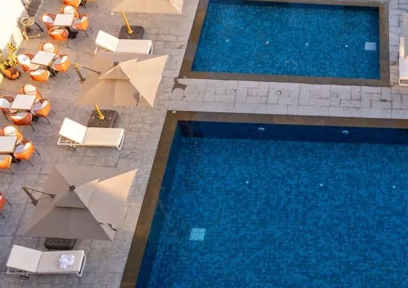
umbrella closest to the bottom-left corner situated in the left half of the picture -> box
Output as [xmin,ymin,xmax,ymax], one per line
[20,164,136,251]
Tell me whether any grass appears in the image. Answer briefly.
No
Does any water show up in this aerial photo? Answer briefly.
Yes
